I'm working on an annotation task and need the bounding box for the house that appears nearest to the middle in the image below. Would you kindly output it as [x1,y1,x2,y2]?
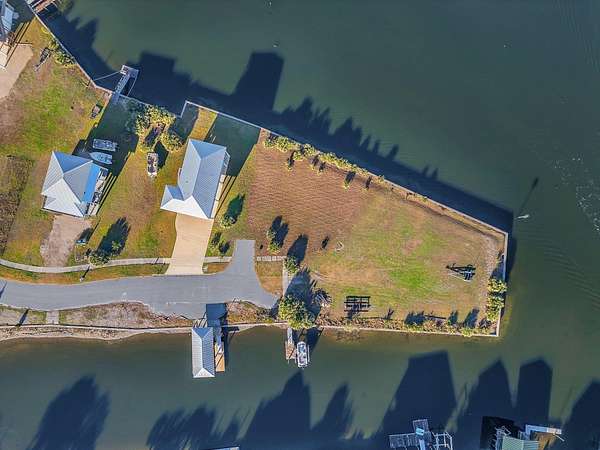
[159,139,236,219]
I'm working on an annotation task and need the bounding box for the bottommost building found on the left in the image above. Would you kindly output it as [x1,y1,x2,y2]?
[192,327,216,378]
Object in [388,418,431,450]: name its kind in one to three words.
pier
